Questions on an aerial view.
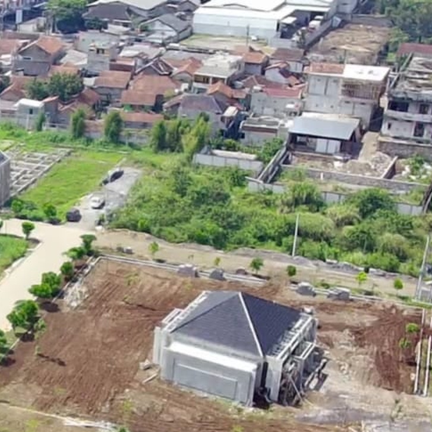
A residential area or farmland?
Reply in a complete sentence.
The area seen from above is a residential area.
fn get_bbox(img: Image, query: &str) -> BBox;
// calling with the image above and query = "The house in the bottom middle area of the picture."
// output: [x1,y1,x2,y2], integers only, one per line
[153,284,328,405]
